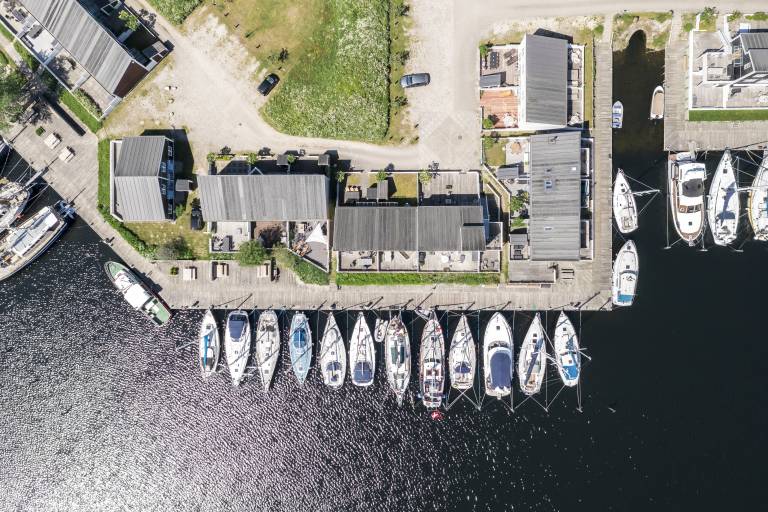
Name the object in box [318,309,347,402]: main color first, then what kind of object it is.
white boat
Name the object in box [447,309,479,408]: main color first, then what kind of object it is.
white boat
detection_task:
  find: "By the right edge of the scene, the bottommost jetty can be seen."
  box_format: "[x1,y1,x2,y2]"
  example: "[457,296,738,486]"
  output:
[661,121,768,152]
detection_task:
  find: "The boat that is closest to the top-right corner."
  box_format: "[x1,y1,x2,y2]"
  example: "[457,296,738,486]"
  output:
[648,88,664,122]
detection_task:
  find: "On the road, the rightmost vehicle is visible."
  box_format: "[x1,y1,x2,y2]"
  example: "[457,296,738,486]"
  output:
[400,71,430,87]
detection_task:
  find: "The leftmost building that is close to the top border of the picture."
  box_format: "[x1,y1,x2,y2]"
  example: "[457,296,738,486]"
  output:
[16,0,148,98]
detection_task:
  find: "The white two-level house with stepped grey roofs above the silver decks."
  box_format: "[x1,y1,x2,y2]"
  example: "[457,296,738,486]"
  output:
[731,31,768,84]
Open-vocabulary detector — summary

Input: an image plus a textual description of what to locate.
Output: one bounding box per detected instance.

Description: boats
[374,310,387,343]
[348,309,380,403]
[244,310,284,400]
[548,309,599,409]
[447,309,479,408]
[286,309,316,401]
[178,309,225,397]
[480,309,513,408]
[0,164,52,233]
[742,151,768,244]
[318,309,347,402]
[381,309,412,408]
[606,232,640,307]
[668,145,706,249]
[209,310,254,400]
[611,166,660,235]
[648,88,664,122]
[95,233,174,327]
[0,192,77,277]
[0,140,14,160]
[703,150,768,249]
[514,309,565,409]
